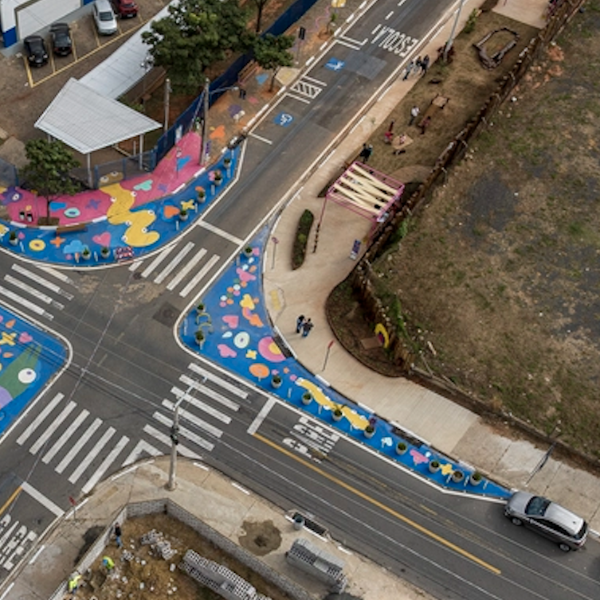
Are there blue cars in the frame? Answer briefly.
No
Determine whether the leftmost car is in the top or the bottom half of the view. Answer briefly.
top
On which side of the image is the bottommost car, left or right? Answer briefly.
right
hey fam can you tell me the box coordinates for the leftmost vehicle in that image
[20,28,50,65]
